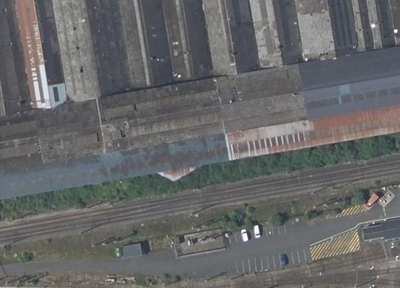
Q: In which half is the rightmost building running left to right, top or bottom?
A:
bottom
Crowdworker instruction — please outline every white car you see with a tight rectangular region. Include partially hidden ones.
[242,229,248,241]
[254,225,260,237]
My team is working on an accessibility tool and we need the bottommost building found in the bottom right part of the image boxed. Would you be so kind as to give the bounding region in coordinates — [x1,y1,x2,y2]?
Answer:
[362,218,400,240]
